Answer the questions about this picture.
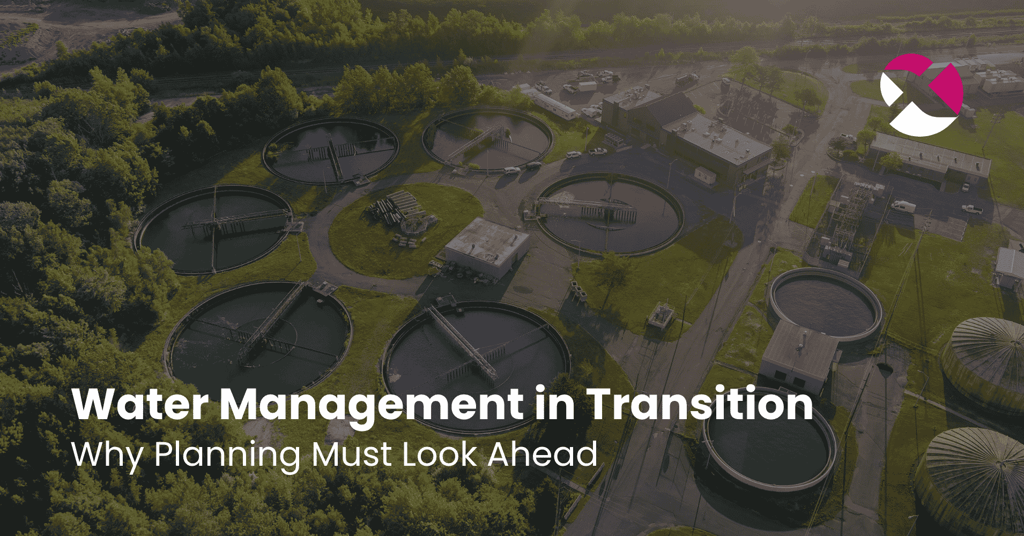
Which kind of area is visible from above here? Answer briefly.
industrial area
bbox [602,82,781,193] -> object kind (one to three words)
building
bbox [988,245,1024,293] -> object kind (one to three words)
shed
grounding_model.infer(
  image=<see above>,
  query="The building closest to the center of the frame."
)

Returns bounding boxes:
[445,216,530,280]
